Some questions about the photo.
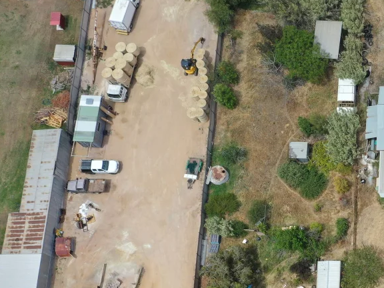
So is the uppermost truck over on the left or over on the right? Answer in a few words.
left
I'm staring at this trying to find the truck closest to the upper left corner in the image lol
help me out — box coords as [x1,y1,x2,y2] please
[109,0,142,37]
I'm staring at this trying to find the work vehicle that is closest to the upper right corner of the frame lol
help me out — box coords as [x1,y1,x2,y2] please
[183,36,206,83]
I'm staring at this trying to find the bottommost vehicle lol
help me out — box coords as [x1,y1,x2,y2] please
[64,176,108,194]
